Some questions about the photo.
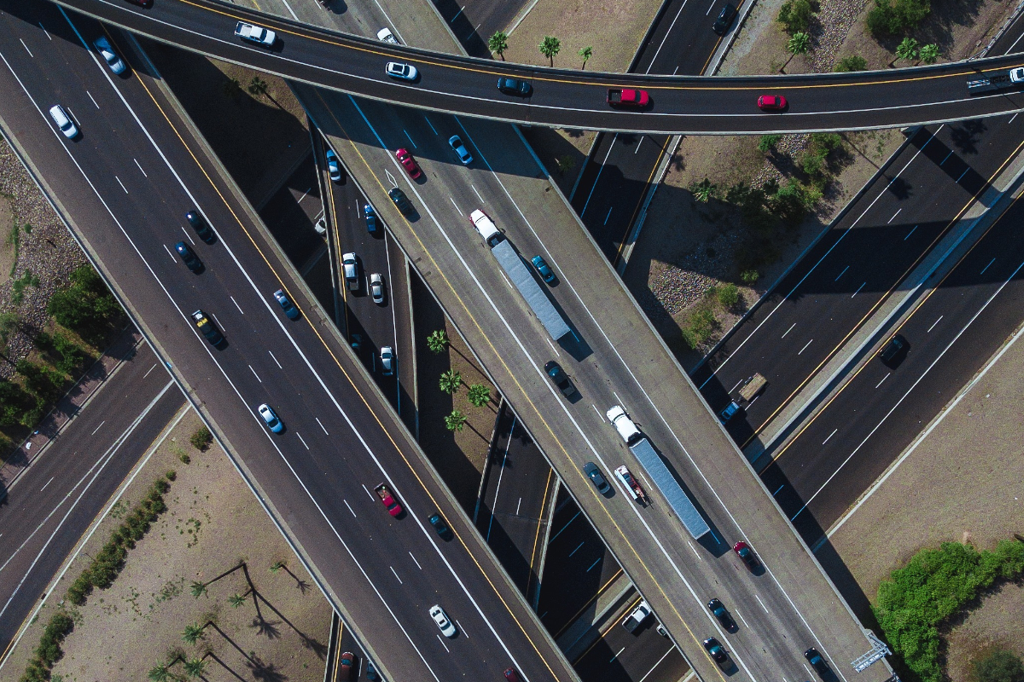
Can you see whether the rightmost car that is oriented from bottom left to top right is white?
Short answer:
No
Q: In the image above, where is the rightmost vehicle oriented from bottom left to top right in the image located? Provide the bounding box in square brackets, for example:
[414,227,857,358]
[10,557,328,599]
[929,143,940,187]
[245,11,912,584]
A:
[877,332,909,366]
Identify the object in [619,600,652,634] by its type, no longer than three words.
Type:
truck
